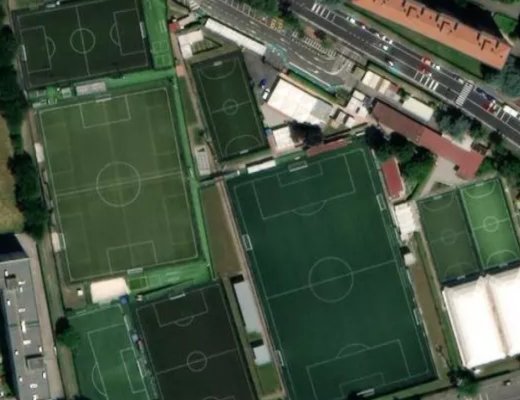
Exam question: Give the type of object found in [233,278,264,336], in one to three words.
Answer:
shed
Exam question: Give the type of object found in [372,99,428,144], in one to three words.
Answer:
house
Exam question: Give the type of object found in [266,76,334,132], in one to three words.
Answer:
building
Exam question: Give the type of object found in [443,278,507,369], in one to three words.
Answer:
building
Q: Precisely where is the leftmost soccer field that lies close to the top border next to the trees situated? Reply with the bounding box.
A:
[13,0,151,92]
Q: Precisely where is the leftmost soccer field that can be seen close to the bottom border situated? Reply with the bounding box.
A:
[64,301,151,400]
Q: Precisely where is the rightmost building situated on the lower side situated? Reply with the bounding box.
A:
[483,268,520,355]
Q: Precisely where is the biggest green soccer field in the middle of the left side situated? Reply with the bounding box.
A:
[37,86,200,284]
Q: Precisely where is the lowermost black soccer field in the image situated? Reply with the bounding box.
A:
[132,281,255,400]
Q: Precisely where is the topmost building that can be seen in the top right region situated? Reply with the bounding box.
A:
[350,0,511,70]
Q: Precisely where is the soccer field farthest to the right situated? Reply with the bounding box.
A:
[461,180,520,274]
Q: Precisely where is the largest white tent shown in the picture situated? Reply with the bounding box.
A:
[91,277,128,303]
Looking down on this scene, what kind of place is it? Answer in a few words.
sports ground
